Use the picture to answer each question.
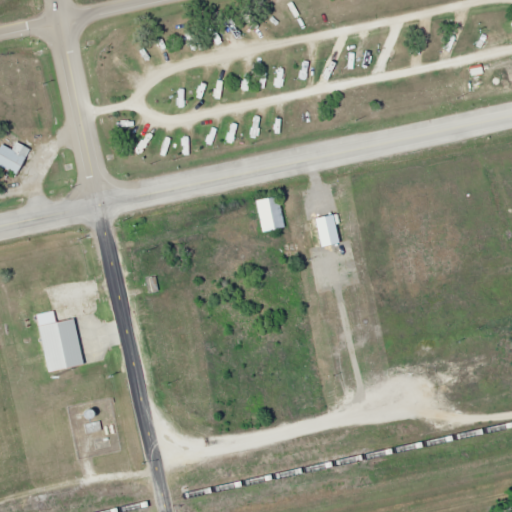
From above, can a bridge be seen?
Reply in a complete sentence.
No, I can't see a single bridge in this photo.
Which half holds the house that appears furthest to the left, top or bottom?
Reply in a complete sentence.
It is in the top half that the house that appears furthest to the left appears.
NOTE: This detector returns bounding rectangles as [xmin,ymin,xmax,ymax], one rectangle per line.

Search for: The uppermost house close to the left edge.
[0,142,30,175]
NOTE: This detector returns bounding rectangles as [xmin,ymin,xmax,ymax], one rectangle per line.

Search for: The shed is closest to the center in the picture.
[255,196,286,234]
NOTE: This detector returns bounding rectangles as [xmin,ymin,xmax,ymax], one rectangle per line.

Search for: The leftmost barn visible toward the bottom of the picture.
[37,312,84,372]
